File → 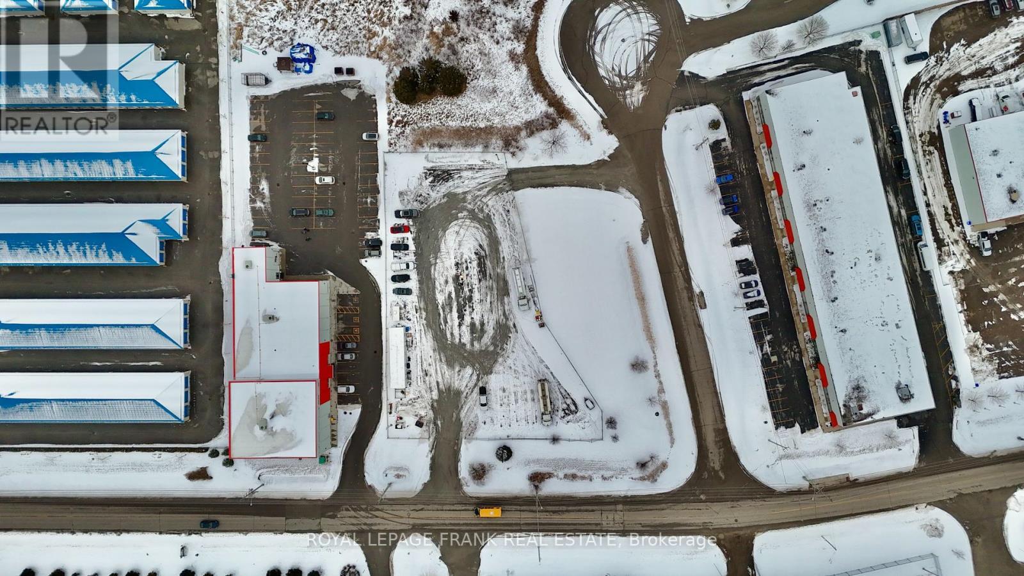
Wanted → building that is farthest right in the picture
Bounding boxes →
[948,108,1024,226]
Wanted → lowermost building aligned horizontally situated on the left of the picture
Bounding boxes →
[0,372,189,424]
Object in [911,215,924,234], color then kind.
blue vehicle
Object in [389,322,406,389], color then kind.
white trailer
